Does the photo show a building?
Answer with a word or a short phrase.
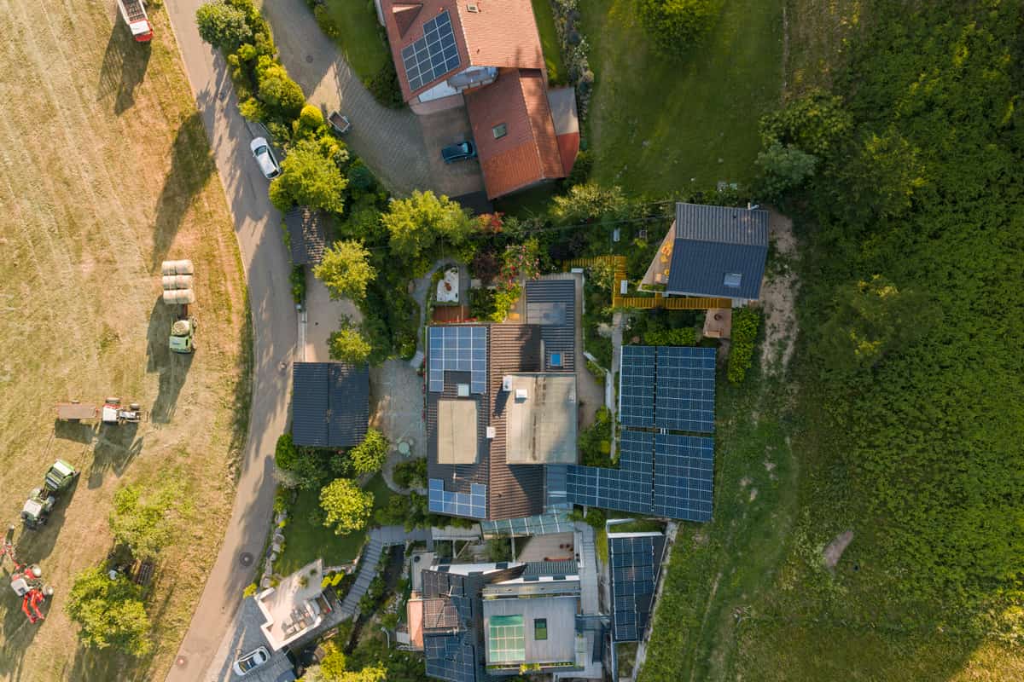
Yes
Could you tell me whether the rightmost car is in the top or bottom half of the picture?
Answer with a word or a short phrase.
top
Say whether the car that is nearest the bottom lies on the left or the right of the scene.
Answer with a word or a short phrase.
left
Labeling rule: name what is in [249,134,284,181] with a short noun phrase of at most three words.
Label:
car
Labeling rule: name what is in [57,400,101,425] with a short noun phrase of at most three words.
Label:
trailer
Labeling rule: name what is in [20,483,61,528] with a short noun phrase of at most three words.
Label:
work vehicle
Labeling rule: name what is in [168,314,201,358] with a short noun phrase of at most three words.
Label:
work vehicle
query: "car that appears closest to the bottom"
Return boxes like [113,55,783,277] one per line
[232,646,272,677]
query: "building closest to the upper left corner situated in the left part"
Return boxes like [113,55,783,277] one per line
[285,207,328,266]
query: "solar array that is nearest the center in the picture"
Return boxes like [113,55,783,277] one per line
[428,328,485,393]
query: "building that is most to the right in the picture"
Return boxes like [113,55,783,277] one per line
[638,198,769,308]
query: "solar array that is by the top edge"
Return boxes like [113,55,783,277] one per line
[402,10,459,91]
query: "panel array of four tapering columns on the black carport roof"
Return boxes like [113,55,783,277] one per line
[612,538,655,639]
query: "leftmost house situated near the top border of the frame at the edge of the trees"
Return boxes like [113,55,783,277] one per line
[376,0,579,201]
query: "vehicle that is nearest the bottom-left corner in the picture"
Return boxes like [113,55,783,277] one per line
[10,564,57,616]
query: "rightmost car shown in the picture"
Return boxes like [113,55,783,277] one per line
[441,138,479,162]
